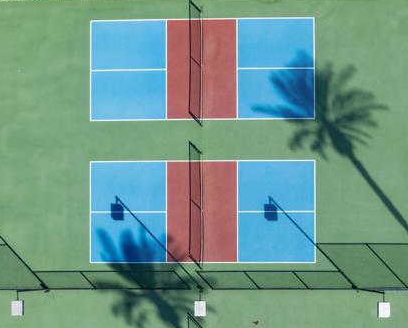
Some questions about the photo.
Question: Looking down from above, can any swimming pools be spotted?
No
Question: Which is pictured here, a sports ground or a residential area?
sports ground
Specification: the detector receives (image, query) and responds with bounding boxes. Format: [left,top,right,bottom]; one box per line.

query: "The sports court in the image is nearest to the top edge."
[90,17,315,121]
